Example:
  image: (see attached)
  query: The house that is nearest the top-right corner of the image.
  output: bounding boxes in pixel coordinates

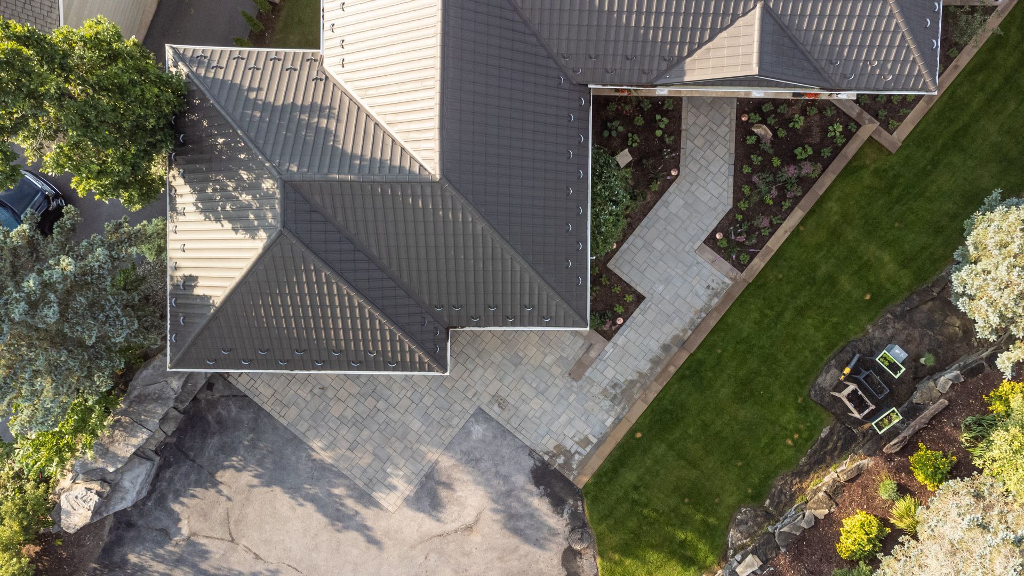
[166,0,941,373]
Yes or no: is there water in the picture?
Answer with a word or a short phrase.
No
